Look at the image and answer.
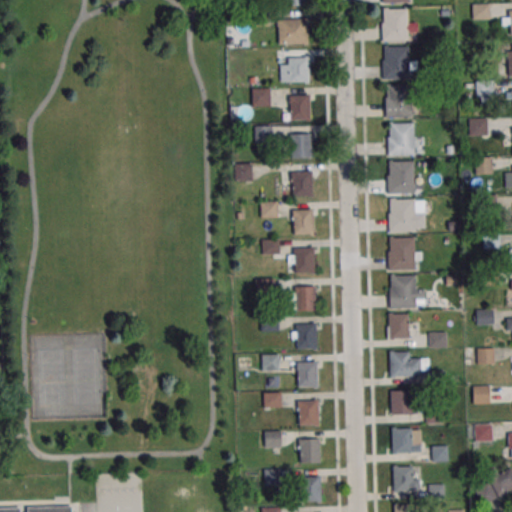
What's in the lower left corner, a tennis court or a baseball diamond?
tennis court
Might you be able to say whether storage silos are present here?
No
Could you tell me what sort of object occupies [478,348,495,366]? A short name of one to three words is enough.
building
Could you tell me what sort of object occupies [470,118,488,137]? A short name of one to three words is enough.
building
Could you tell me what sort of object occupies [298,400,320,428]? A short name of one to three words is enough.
house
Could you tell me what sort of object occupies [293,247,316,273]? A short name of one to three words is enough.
house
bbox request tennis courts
[30,333,105,418]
